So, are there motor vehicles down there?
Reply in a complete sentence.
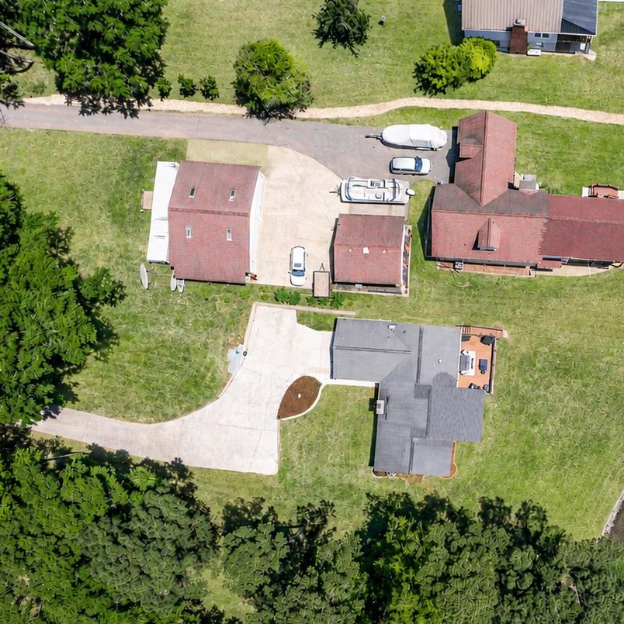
Yes, the photo shows a motor vehicle.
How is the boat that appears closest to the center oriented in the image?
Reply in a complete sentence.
The boat that appears closest to the center has been laid out horizontally relative to the frame.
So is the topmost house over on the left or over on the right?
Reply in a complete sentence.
The topmost house appears in the right half of the scene.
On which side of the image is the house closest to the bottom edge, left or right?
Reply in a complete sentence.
You can find the house closest to the bottom edge on the right side of the picture.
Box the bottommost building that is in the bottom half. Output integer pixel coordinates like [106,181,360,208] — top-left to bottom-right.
[333,318,483,476]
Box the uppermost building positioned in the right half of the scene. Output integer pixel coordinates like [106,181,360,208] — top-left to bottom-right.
[461,0,598,61]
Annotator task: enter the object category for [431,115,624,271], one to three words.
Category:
house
